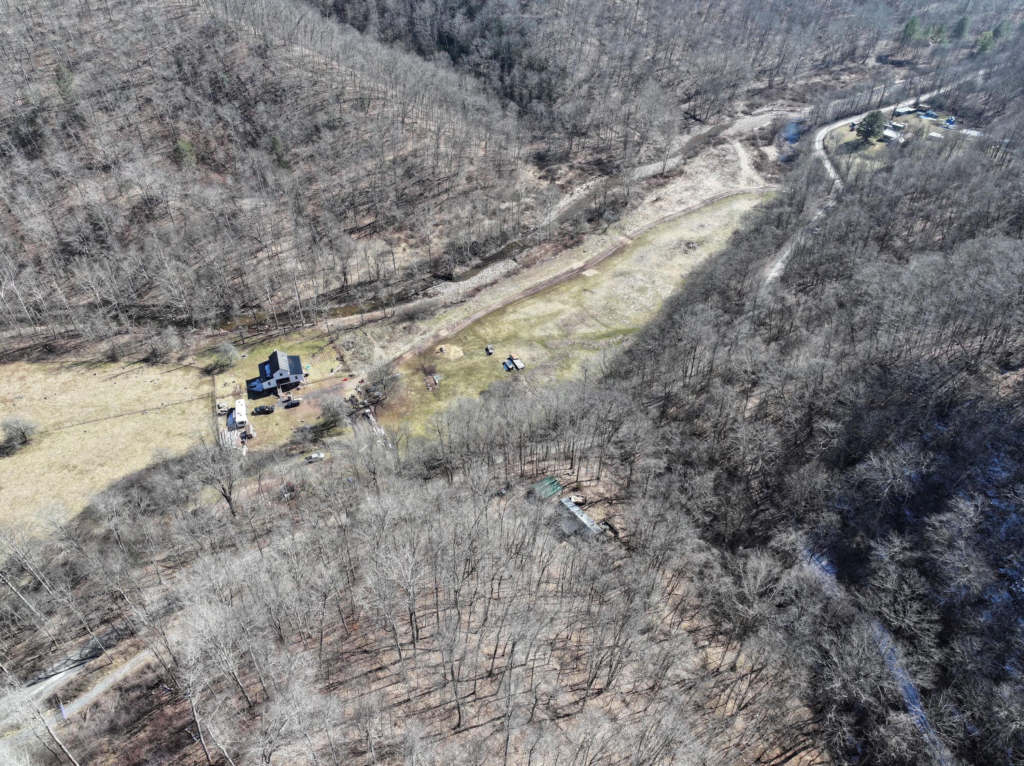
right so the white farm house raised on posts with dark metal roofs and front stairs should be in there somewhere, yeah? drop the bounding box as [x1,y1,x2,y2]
[258,351,308,399]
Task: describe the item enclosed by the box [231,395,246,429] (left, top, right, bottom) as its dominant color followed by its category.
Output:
white vehicle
